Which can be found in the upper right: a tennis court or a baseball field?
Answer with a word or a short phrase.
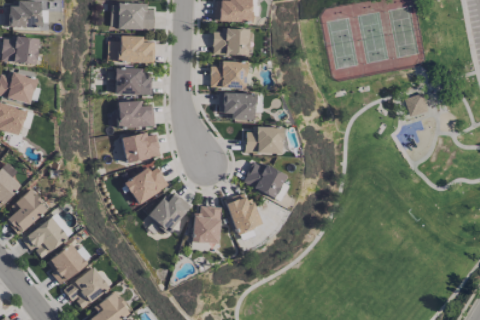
tennis court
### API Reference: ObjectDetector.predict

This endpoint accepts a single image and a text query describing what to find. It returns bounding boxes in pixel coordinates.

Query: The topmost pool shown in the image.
[260,66,273,87]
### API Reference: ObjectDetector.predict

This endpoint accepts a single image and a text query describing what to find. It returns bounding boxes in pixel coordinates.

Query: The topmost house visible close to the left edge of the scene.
[8,0,49,28]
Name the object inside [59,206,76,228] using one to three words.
swimming pool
